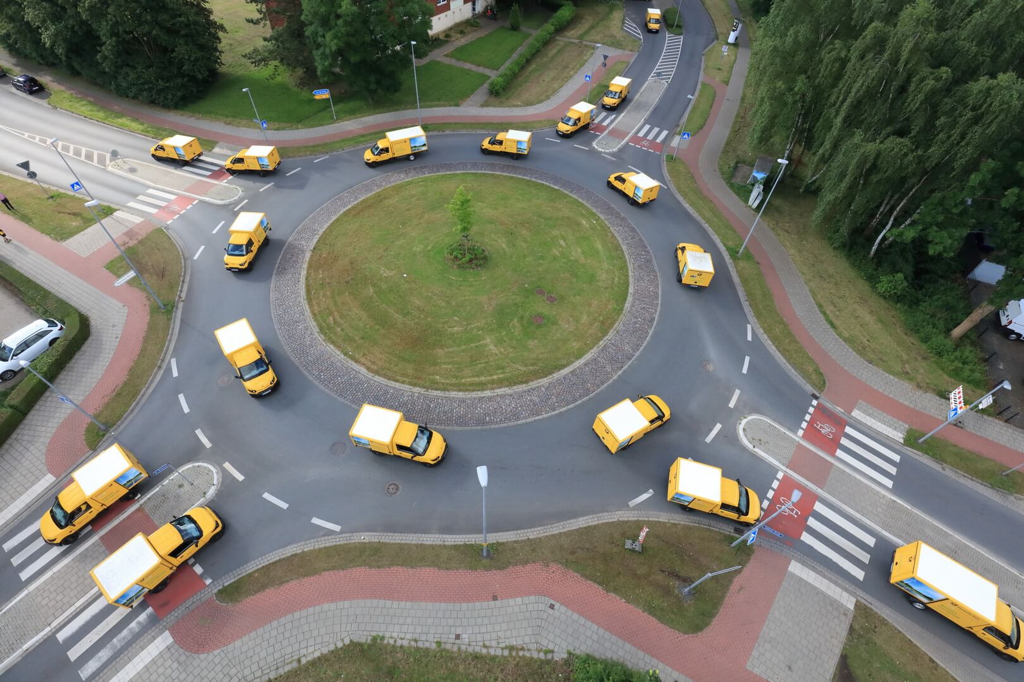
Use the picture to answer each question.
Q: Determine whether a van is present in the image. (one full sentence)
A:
Yes, there's a van down there.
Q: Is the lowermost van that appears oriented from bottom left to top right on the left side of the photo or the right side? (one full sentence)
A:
The lowermost van that appears oriented from bottom left to top right appears in the left half of the scene.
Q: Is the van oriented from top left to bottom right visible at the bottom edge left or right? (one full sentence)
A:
The van oriented from top left to bottom right visible at the bottom edge sits on the right side.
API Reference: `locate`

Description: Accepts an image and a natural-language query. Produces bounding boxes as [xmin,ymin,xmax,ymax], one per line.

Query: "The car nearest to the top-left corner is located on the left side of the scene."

[7,73,41,94]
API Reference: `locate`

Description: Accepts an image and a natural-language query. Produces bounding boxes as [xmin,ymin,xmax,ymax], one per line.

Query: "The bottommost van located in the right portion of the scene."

[888,542,1024,668]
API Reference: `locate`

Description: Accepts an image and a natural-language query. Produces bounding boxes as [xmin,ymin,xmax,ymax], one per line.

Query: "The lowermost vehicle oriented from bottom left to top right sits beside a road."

[92,507,227,611]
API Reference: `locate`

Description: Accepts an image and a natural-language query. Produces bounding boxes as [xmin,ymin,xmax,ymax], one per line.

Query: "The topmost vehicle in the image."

[644,8,662,35]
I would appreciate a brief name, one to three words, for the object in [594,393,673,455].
van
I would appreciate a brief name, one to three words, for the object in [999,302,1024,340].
vehicle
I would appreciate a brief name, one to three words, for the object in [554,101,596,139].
van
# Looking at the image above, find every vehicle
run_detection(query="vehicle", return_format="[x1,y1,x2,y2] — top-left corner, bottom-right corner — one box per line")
[351,406,446,469]
[0,310,65,376]
[999,302,1024,340]
[594,393,673,455]
[7,73,41,94]
[220,212,272,272]
[363,126,428,166]
[36,445,152,548]
[676,243,714,290]
[480,129,531,159]
[554,101,596,139]
[888,542,1024,668]
[644,8,662,35]
[607,170,659,207]
[148,134,205,166]
[92,507,227,611]
[216,319,277,398]
[601,76,632,112]
[223,145,282,177]
[666,459,762,530]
